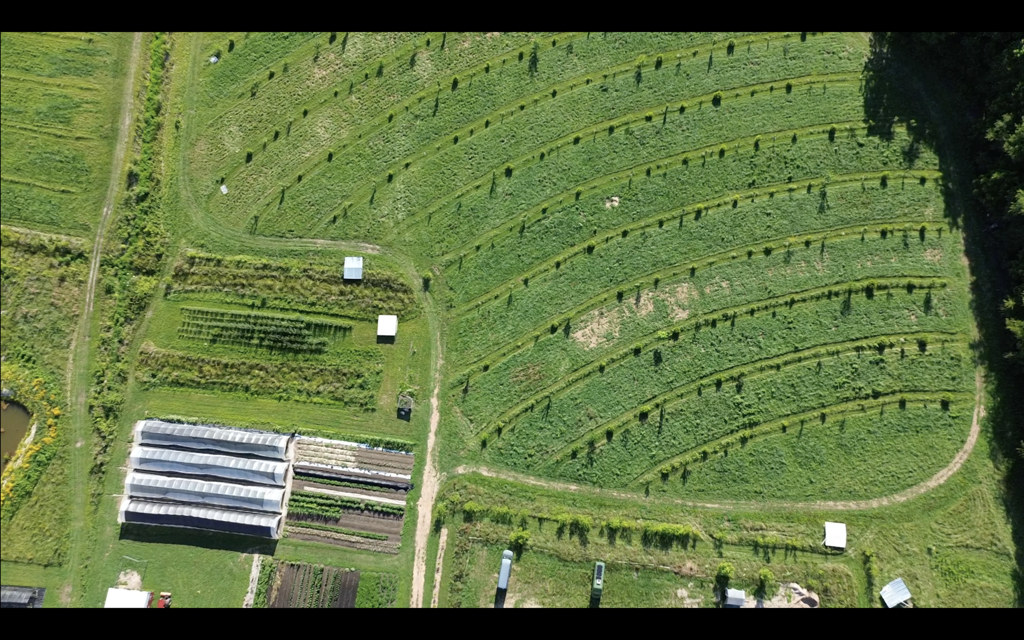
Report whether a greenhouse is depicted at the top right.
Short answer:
No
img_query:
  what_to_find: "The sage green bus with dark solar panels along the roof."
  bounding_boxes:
[589,562,605,600]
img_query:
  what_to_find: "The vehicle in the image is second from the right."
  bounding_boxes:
[498,549,513,590]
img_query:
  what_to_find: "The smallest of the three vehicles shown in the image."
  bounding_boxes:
[158,590,172,608]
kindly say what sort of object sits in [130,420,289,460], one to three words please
greenhouse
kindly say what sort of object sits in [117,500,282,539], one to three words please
greenhouse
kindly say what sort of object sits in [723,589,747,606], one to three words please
shed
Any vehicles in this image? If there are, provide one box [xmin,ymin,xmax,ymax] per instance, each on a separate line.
[589,562,605,600]
[498,549,513,590]
[158,590,172,608]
